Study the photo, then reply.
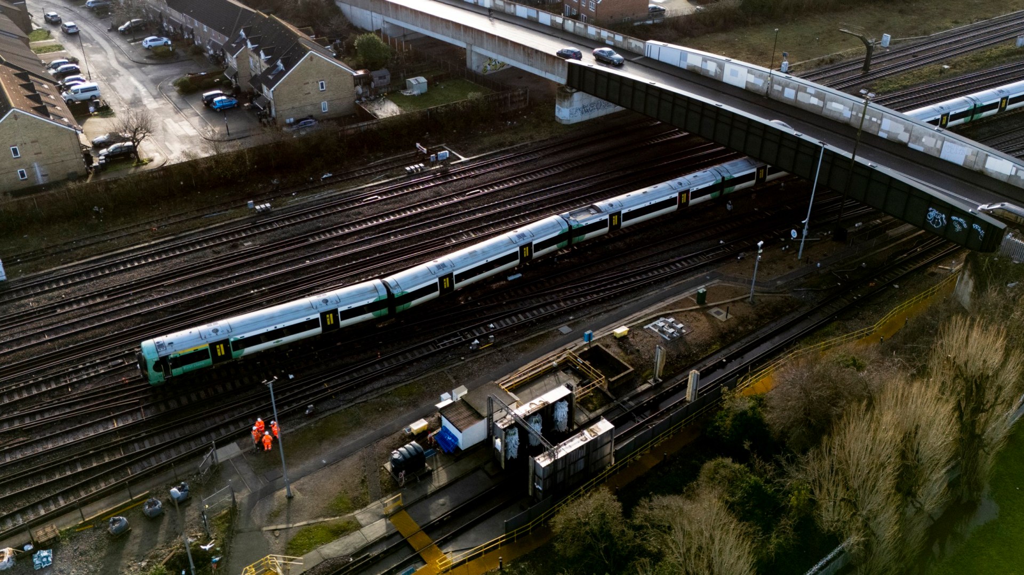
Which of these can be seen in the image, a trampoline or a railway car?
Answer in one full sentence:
There is a railway car in the scene.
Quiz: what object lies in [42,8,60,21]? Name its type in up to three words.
vehicle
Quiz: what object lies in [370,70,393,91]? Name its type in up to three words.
shed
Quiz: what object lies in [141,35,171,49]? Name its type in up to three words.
car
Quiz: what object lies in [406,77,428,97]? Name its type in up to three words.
shed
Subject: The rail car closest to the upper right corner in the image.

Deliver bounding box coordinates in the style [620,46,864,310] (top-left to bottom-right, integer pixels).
[962,76,1024,122]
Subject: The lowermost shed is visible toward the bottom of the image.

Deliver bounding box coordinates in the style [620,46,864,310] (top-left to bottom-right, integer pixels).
[439,398,485,447]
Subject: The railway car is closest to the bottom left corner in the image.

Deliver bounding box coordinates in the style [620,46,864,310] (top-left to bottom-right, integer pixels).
[135,274,388,384]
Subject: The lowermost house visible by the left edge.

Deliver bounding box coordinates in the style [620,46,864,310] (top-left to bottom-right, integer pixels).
[0,61,87,190]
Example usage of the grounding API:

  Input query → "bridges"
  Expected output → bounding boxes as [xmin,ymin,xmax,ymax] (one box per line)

[307,0,1024,302]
